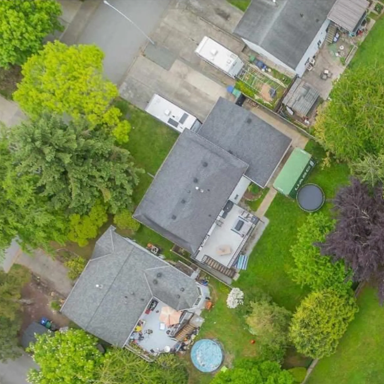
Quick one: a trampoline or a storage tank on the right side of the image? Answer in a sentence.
You can see a trampoline on the right side of the image.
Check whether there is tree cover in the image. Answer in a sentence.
Yes, tree cover can be seen from above here.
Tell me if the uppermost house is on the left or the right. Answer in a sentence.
The uppermost house sits on the right side.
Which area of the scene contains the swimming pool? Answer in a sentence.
The swimming pool appears toward the bottom of the photo.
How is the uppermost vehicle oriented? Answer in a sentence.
I'd say the uppermost vehicle is aligned on a diagonal in the picture.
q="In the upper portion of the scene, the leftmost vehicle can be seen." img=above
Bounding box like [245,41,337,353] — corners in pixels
[145,94,202,134]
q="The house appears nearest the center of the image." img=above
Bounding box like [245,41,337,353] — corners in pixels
[133,97,293,280]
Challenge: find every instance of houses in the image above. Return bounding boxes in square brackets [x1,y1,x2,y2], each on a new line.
[59,228,216,355]
[133,97,293,280]
[232,0,344,83]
